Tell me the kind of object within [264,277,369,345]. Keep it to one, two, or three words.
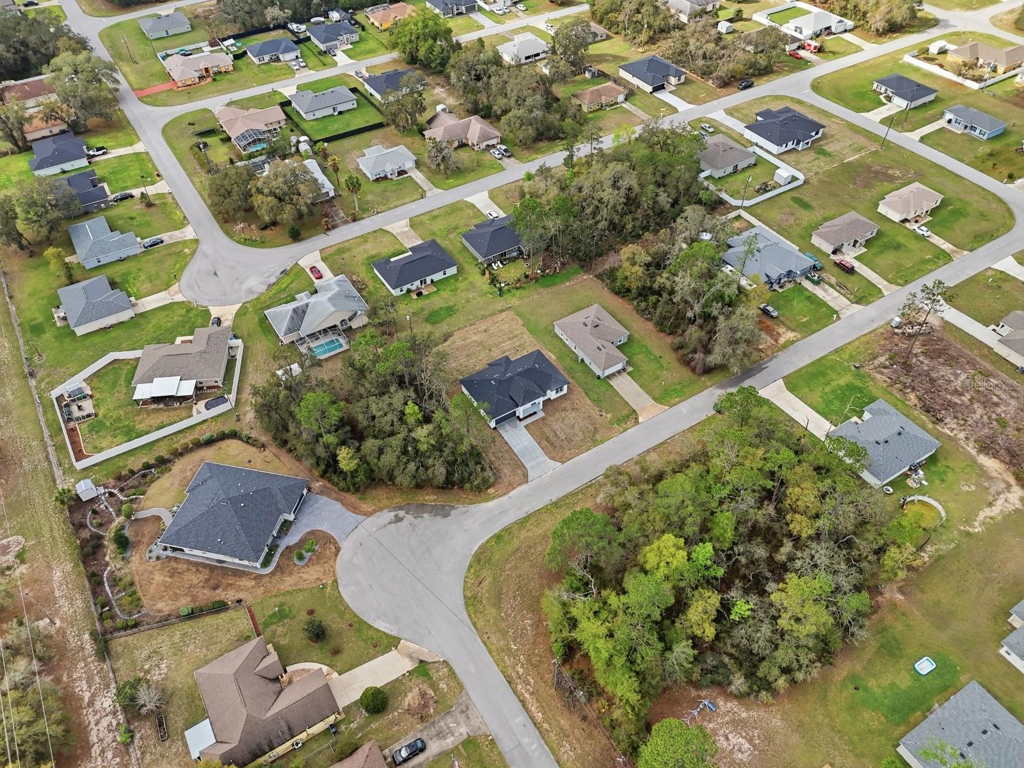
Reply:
building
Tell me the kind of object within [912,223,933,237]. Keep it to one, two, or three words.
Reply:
car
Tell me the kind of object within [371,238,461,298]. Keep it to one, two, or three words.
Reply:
house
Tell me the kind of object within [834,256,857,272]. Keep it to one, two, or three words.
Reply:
car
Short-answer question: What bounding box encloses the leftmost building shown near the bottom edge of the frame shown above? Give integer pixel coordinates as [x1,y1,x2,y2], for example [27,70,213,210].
[193,639,338,768]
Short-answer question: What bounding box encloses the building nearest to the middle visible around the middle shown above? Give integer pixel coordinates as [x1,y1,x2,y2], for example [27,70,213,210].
[459,348,572,428]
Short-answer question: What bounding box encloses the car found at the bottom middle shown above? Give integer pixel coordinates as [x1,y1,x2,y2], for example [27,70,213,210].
[389,732,429,768]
